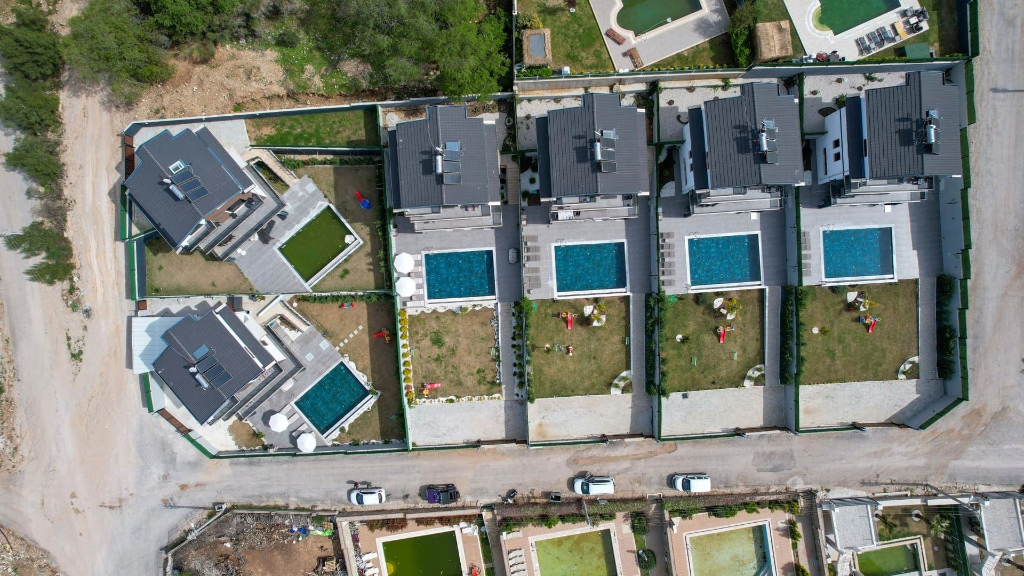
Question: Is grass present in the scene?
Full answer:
Yes, the picture does contain grass.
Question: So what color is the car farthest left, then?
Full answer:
From above, the car farthest left appears white.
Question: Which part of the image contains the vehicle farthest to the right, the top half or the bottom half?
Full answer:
The bottom half of the photo is where the vehicle farthest to the right is.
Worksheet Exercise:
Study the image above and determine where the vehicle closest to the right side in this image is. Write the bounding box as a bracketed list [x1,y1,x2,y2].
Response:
[671,472,713,494]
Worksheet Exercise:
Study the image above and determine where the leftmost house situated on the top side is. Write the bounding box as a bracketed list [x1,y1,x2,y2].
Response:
[119,122,290,261]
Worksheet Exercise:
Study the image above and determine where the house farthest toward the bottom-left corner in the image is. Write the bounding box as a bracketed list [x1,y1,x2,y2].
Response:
[143,296,308,428]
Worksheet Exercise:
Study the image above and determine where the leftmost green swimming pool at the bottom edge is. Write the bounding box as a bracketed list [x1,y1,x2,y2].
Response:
[376,525,471,576]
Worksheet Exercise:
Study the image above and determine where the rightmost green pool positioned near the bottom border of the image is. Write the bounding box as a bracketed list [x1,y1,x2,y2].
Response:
[856,536,926,576]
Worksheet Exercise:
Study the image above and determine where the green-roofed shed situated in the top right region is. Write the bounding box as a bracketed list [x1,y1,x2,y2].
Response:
[897,42,932,59]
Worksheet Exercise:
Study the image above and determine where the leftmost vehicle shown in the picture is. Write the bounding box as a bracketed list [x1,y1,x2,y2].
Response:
[350,486,387,507]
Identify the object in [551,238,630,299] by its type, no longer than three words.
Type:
swimming pool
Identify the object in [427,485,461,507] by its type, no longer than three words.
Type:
car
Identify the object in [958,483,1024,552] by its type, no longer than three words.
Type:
building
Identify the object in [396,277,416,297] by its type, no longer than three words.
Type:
umbrella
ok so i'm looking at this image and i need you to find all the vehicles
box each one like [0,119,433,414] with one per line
[427,485,461,507]
[671,472,713,494]
[507,489,518,505]
[350,486,387,507]
[574,470,615,497]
